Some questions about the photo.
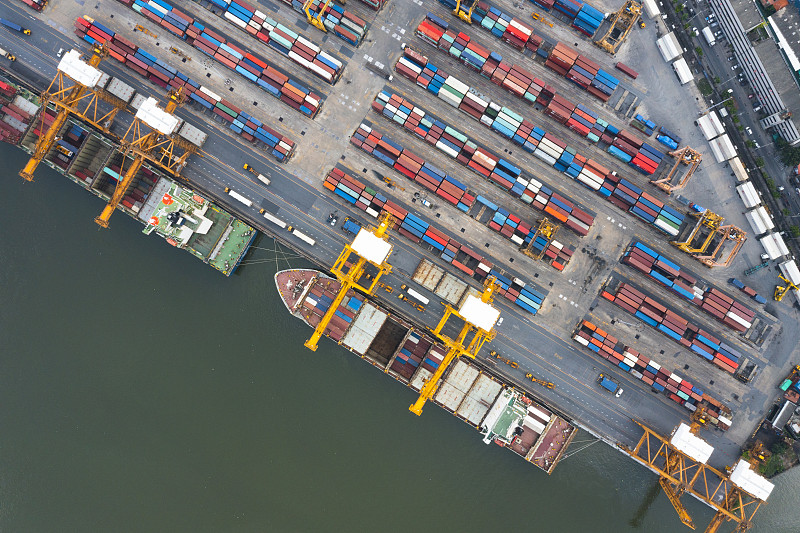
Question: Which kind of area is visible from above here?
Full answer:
It's a port.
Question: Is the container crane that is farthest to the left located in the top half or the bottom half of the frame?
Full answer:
You can find the container crane that is farthest to the left in the top half.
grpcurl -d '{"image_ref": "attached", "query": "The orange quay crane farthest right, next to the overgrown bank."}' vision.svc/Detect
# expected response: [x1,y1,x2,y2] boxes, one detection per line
[671,441,773,533]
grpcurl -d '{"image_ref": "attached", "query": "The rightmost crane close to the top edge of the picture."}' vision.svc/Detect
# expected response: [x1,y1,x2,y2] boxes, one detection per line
[595,0,647,59]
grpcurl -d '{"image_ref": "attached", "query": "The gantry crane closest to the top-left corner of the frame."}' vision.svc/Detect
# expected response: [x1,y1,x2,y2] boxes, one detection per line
[16,39,138,182]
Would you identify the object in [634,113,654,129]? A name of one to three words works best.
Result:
work vehicle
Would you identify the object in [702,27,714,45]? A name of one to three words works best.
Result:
vehicle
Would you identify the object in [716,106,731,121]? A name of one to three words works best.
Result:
vehicle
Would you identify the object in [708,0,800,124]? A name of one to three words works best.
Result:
building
